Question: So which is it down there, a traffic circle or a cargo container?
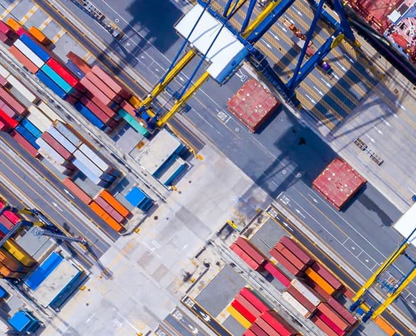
cargo container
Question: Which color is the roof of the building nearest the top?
white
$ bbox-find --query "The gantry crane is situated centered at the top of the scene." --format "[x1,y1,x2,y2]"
[134,0,366,135]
